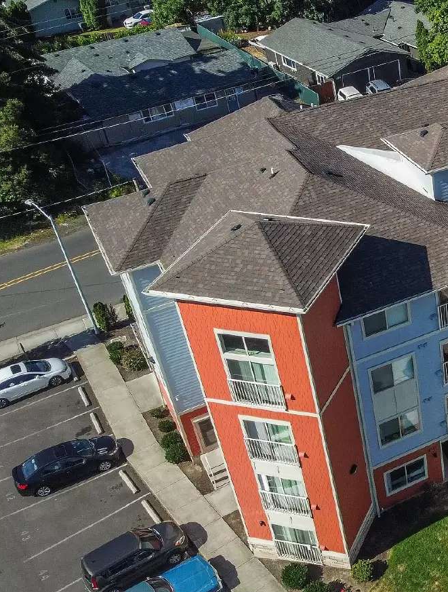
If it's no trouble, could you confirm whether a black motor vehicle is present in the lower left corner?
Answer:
Yes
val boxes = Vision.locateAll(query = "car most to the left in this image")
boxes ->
[0,361,67,408]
